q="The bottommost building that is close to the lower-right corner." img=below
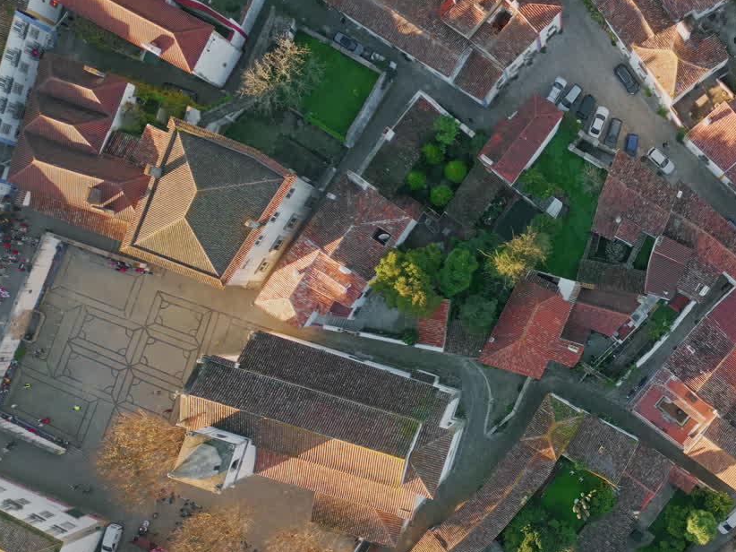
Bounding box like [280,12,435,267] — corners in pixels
[581,480,654,552]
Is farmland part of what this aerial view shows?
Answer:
No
